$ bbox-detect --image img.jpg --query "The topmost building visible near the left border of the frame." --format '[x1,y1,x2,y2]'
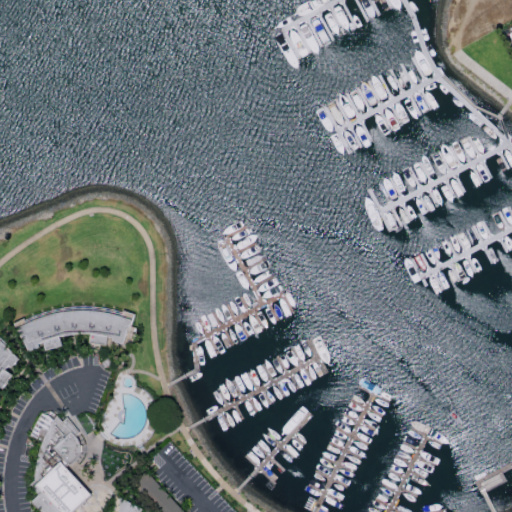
[14,306,137,351]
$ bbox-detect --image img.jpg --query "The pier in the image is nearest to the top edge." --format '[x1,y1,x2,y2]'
[272,0,392,68]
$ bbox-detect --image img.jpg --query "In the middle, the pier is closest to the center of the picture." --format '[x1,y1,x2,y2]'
[215,220,282,304]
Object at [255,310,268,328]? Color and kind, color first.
white boat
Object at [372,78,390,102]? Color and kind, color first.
white boat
